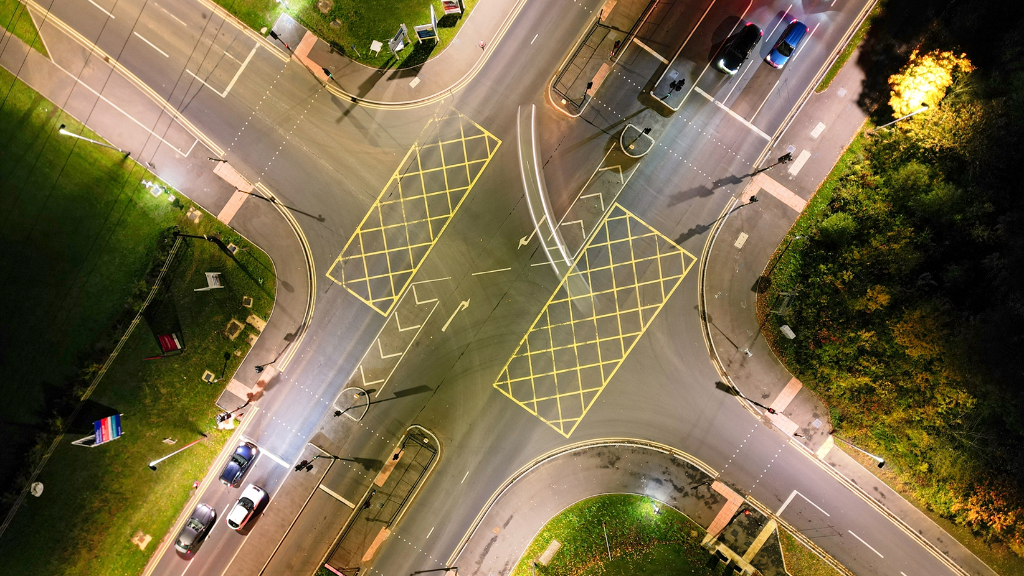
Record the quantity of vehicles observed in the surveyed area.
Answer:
5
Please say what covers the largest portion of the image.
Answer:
paved ground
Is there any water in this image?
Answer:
No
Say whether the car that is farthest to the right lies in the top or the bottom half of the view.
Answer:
top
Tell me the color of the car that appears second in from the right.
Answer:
black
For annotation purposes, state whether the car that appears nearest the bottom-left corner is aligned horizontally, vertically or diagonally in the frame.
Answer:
diagonally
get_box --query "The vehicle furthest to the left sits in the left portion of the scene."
[170,500,220,560]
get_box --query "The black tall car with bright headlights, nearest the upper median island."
[716,19,765,78]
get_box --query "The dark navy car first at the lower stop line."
[218,437,263,490]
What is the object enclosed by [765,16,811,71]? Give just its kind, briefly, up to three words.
car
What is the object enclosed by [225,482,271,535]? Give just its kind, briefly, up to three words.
car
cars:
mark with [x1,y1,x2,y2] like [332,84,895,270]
[765,16,811,71]
[218,437,263,490]
[716,19,765,78]
[225,482,271,535]
[170,500,220,560]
